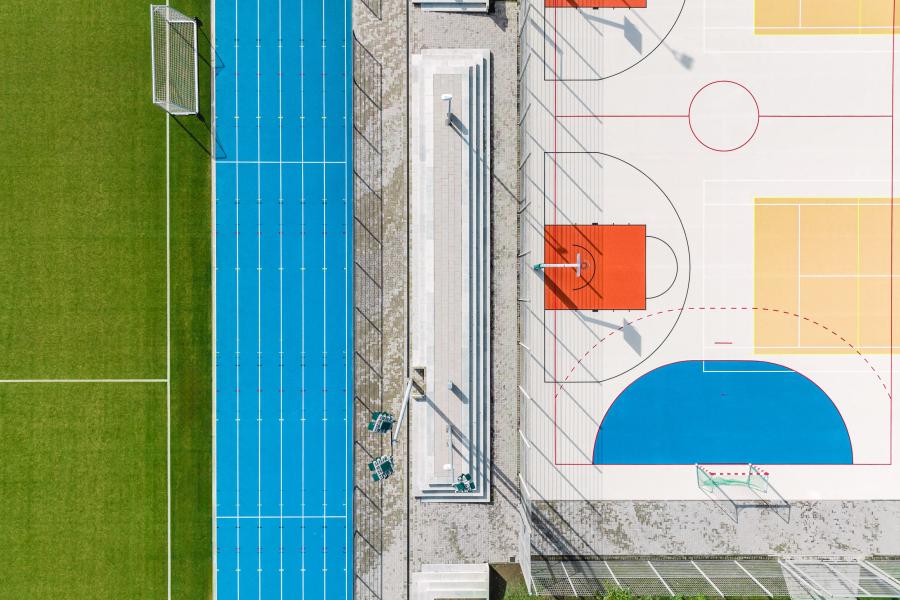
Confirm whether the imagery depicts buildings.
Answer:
No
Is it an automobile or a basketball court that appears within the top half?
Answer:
basketball court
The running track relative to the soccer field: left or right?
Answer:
right of it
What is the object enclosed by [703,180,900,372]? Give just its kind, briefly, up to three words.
tennis court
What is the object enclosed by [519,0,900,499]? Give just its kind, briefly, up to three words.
sports court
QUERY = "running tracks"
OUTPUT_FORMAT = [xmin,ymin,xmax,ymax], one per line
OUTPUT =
[211,0,352,600]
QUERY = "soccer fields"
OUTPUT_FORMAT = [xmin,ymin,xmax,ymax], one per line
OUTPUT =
[0,0,213,600]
